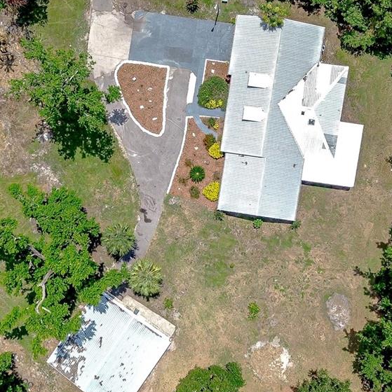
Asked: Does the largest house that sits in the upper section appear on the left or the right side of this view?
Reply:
right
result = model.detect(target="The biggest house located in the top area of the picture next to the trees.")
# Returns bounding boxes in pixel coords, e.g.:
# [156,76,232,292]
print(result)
[218,14,364,222]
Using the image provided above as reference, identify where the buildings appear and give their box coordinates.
[47,291,173,392]
[218,14,364,222]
